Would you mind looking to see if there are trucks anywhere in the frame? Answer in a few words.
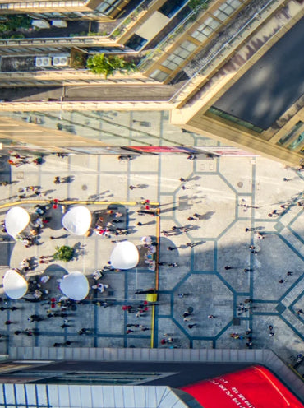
No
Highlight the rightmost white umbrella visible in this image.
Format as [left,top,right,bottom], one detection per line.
[108,239,140,271]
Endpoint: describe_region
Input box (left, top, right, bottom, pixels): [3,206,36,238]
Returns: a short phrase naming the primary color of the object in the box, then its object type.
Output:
white umbrella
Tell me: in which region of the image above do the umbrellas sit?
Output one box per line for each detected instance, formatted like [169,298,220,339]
[1,267,34,299]
[108,239,140,271]
[61,206,94,236]
[60,272,92,303]
[3,206,36,238]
